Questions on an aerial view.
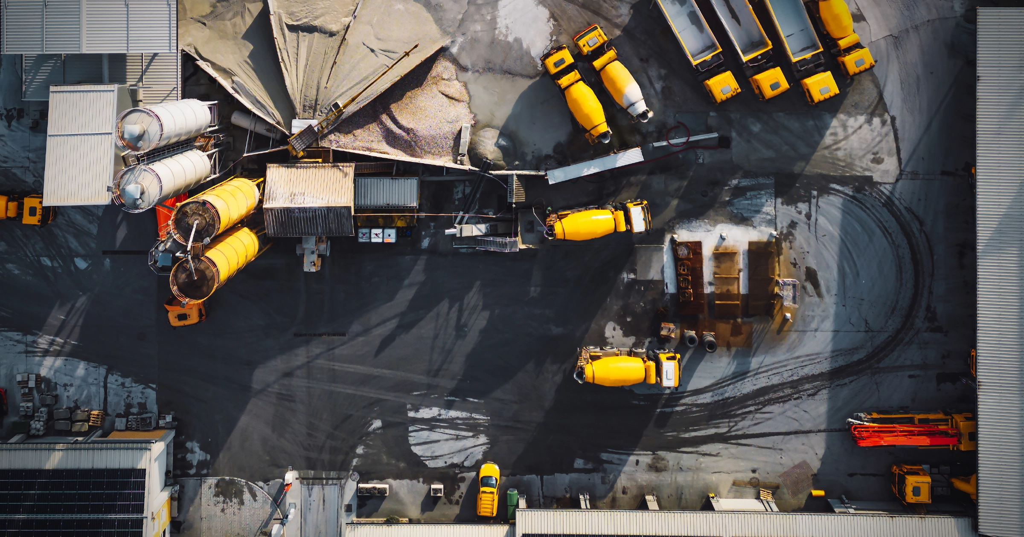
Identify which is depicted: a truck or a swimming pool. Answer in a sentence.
It is a truck that can be seen here.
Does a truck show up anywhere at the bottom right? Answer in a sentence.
Yes, I can see a truck at the bottom right.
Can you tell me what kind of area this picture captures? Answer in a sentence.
The picture captures an industrial area.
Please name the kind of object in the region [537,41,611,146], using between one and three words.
truck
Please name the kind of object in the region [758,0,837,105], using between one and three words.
truck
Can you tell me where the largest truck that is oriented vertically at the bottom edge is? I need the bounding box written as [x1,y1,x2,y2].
[476,460,500,519]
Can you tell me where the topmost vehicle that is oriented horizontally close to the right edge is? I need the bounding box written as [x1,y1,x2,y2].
[846,410,975,453]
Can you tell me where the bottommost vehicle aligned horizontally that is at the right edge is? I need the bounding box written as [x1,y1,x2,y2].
[882,462,975,505]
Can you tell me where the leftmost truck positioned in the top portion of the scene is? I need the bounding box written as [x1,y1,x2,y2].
[0,192,53,226]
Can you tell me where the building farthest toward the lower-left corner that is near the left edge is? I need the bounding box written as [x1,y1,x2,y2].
[0,421,182,537]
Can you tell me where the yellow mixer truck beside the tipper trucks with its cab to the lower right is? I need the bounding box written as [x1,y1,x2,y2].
[807,0,877,79]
